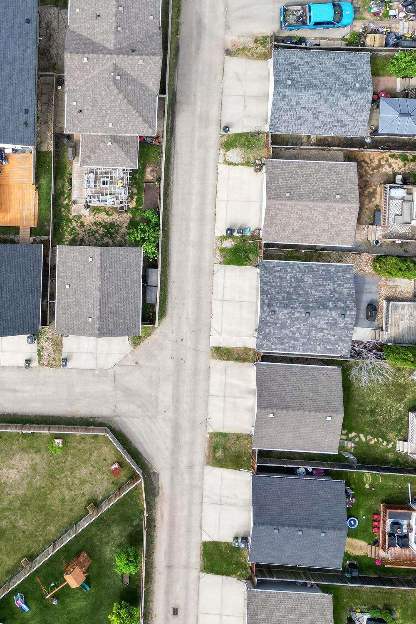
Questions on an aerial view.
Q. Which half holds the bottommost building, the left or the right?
right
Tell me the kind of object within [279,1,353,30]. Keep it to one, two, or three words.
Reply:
truck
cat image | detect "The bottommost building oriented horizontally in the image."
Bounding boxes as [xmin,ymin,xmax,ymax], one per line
[242,579,334,624]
